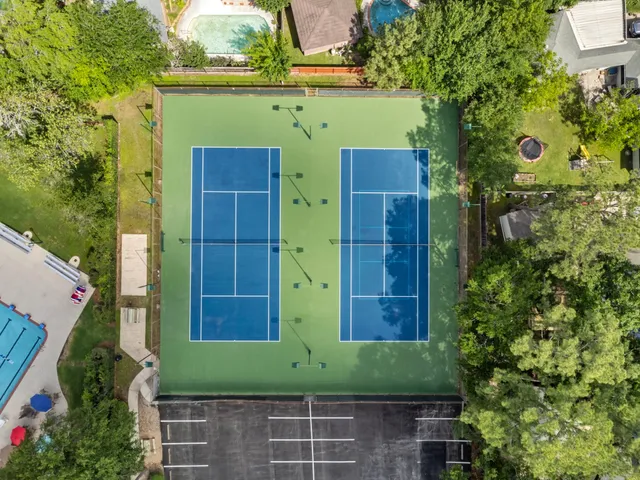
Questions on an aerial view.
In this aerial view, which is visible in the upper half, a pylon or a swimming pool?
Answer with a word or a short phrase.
swimming pool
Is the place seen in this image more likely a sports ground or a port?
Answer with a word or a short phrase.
sports ground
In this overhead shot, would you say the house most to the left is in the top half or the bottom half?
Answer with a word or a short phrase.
top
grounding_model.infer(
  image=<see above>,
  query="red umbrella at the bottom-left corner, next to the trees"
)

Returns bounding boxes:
[6,425,32,446]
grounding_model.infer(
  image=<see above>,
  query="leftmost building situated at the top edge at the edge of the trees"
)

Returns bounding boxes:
[286,0,360,55]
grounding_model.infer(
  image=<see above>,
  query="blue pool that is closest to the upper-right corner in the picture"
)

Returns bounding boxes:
[368,0,414,34]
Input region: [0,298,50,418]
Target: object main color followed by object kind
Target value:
blue swimming pool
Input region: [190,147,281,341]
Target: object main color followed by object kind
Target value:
blue tennis court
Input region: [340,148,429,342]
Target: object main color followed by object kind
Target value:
blue tennis court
